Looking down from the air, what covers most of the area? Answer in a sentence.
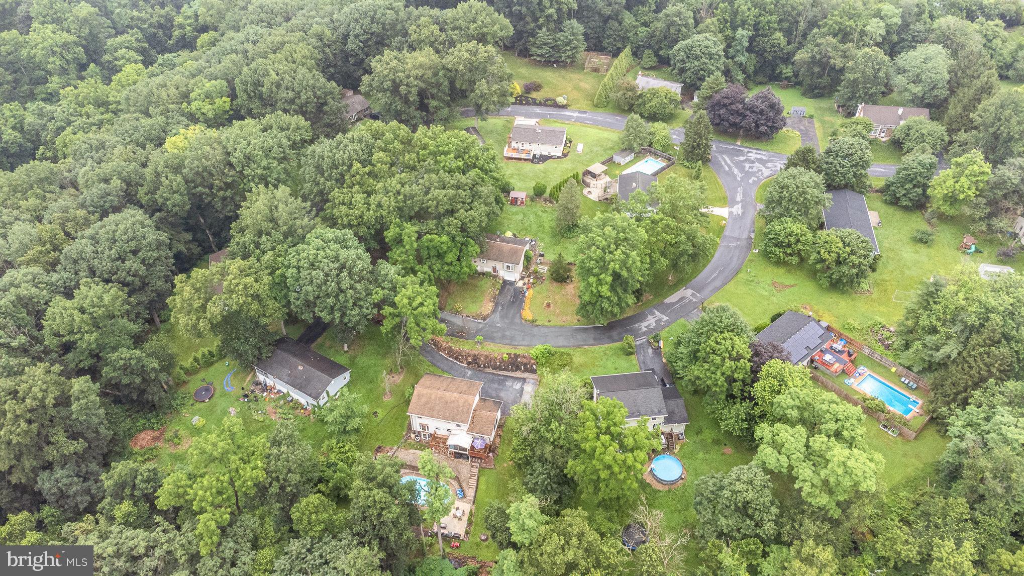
The largest share of the image is taken up by trees.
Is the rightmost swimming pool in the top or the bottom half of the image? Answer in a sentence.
It is in the bottom half that the rightmost swimming pool appears.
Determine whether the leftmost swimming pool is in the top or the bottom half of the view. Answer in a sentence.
Seen from above, the leftmost swimming pool lies in the bottom half of the view.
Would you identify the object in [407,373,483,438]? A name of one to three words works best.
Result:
house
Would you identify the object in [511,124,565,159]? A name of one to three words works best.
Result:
house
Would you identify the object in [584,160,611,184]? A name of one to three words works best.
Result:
gazebo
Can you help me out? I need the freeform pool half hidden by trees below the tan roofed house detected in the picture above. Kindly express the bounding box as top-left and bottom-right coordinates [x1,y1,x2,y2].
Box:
[405,472,454,511]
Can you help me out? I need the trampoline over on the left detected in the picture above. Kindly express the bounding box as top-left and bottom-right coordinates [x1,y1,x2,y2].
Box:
[190,383,215,402]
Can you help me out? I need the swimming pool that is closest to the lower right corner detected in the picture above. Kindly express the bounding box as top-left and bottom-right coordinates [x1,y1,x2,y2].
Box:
[855,372,919,417]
